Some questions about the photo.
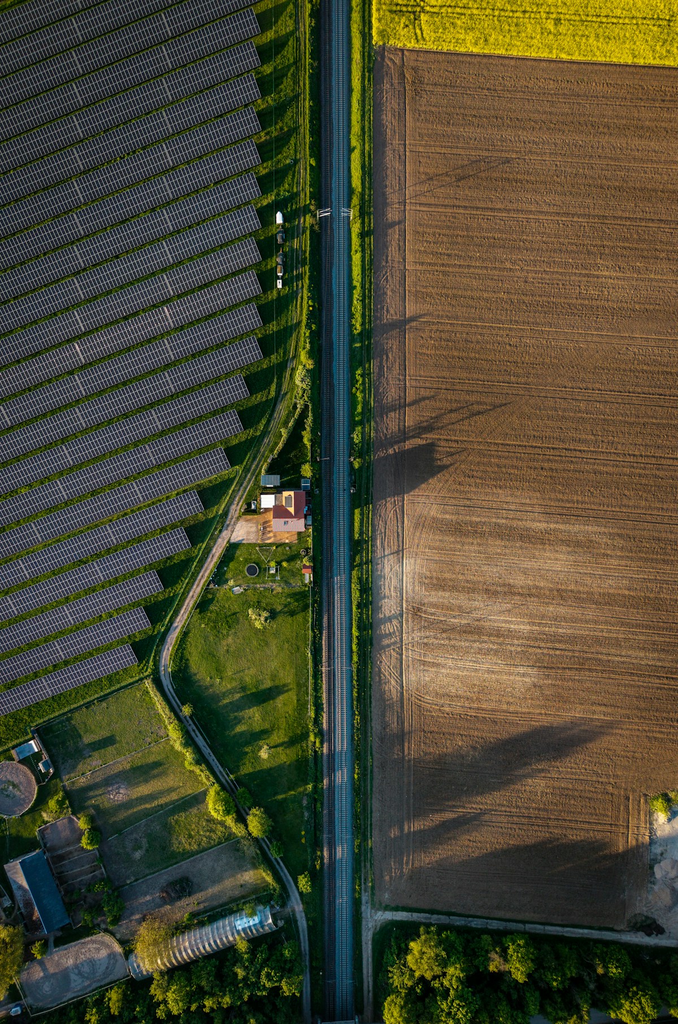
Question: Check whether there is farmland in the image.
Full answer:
Yes, there's farmland in this view.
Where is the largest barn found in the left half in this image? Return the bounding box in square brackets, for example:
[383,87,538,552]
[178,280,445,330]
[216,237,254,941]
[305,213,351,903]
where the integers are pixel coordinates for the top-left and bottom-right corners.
[5,845,73,935]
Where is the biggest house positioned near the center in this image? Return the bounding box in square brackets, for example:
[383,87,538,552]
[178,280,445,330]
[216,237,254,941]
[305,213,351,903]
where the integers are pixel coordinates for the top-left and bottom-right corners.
[272,491,306,532]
